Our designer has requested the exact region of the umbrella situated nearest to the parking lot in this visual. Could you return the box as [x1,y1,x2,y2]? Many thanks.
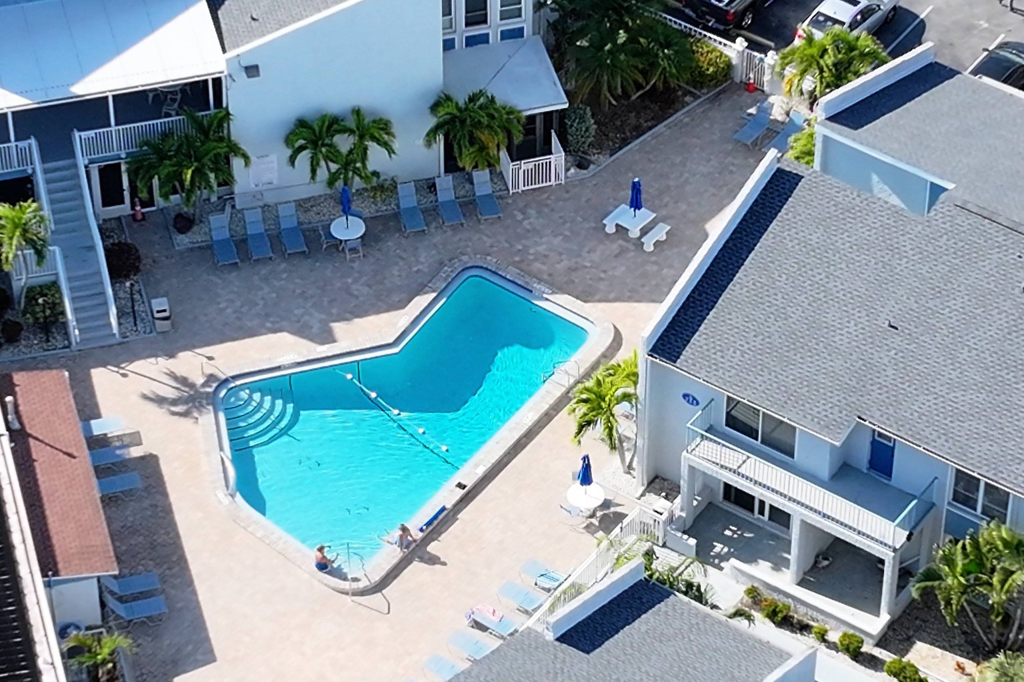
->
[631,170,643,217]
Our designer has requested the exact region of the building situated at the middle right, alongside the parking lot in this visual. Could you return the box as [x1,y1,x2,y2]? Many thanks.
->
[634,42,1024,644]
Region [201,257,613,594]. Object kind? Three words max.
swimming pool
